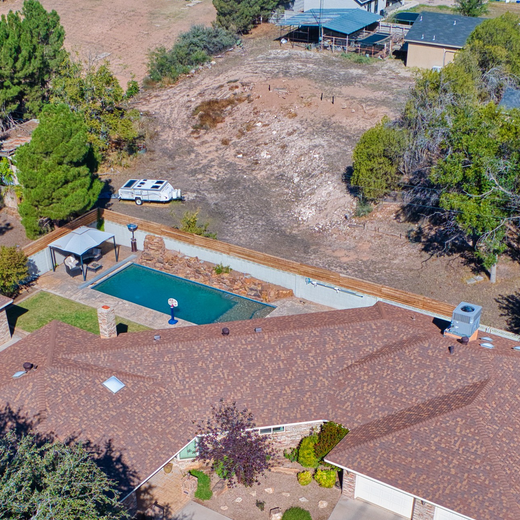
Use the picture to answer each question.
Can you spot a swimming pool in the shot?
Yes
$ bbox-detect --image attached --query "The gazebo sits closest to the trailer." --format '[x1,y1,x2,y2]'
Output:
[49,226,118,281]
